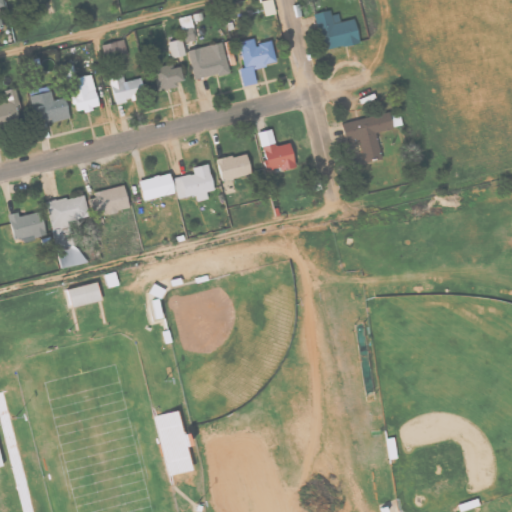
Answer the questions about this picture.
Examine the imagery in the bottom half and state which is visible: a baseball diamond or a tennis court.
baseball diamond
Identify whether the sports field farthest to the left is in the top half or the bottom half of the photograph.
bottom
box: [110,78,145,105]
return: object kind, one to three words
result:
house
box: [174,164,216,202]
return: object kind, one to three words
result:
house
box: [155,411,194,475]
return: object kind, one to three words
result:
building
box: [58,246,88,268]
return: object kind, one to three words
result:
building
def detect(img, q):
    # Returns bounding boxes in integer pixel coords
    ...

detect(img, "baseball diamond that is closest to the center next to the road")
[164,258,297,424]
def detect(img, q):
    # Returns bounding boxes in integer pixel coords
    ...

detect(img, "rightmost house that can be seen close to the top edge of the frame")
[315,11,362,49]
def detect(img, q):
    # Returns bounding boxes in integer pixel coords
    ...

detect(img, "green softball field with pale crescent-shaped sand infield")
[368,294,512,512]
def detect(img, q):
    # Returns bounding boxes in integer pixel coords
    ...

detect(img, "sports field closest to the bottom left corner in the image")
[45,365,154,512]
